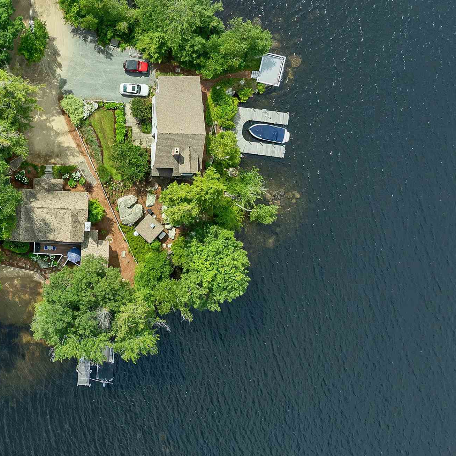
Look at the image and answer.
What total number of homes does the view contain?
2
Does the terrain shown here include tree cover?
Yes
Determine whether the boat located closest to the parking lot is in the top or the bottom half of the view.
top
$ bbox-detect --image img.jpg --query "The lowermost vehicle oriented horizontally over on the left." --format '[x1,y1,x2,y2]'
[119,84,149,97]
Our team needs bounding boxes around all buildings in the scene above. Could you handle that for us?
[150,75,206,177]
[13,177,107,271]
[134,213,163,244]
